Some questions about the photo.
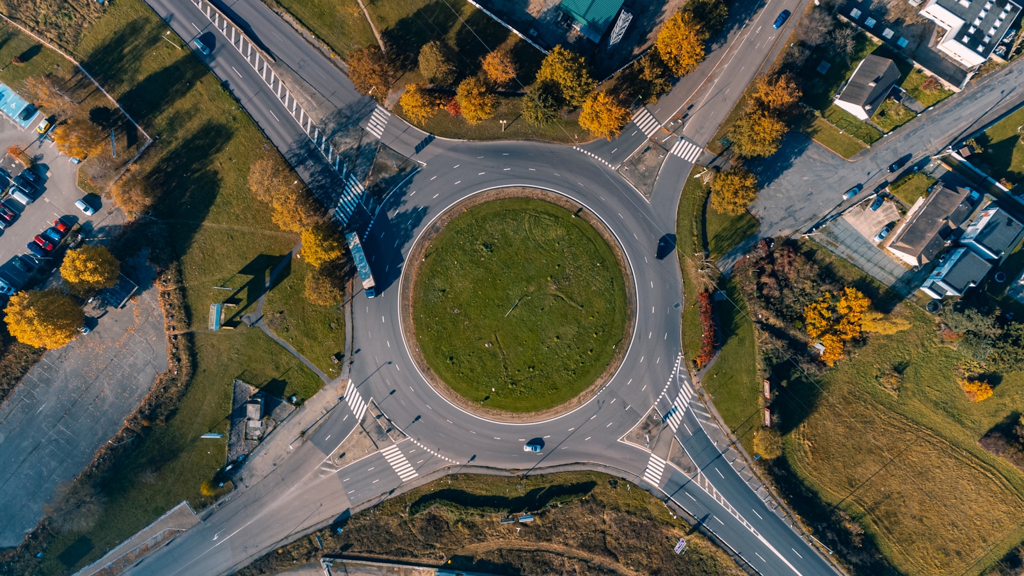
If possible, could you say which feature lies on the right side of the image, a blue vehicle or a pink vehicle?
blue vehicle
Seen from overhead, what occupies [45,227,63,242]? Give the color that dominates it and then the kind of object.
blue car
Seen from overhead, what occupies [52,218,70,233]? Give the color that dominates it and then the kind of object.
red car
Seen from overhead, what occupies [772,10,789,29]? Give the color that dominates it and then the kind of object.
blue car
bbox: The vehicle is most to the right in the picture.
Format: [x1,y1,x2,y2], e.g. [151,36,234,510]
[963,185,981,202]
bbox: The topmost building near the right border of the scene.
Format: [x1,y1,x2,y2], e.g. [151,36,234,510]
[923,0,1023,67]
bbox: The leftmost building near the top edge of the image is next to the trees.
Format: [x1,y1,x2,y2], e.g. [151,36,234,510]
[559,0,625,49]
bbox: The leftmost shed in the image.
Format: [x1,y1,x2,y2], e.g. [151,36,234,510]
[106,274,142,307]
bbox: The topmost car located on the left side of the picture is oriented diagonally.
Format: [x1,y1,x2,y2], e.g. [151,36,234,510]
[193,37,212,56]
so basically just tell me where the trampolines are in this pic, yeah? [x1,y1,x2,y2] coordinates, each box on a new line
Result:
[924,299,944,314]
